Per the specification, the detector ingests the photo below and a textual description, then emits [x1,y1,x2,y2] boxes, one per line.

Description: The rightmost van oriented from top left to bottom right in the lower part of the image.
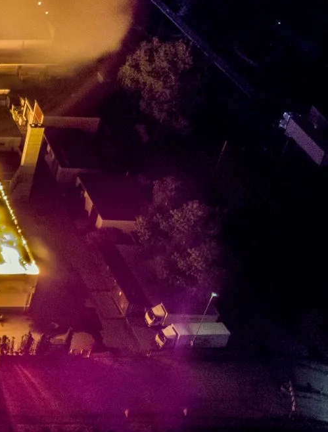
[68,326,97,362]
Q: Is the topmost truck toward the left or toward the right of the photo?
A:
right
